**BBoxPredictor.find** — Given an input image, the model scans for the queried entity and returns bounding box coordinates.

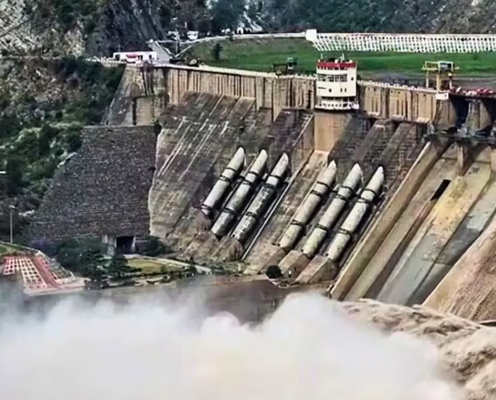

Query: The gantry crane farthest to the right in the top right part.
[431,59,466,92]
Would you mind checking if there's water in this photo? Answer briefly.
Yes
